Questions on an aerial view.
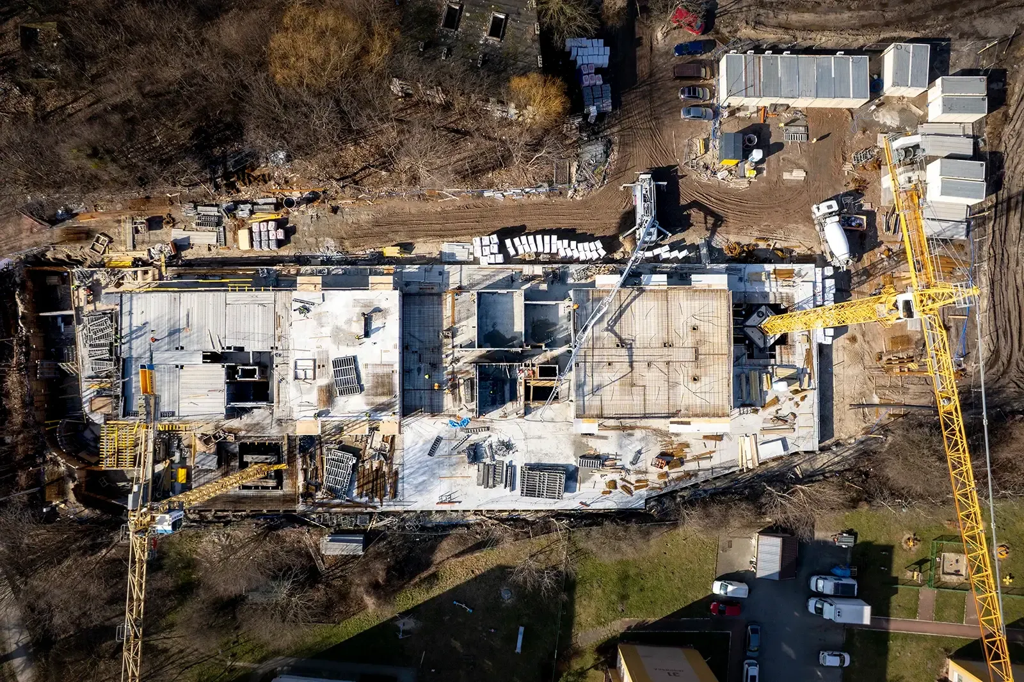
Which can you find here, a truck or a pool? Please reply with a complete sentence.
This aerial view contains a truck.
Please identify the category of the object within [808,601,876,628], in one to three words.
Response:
truck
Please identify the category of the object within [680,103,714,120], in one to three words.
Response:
car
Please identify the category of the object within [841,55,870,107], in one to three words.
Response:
building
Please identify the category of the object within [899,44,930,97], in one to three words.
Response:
building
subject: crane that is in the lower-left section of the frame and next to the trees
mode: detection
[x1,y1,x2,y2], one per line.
[97,372,283,682]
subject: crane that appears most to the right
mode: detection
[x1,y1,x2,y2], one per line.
[733,139,1016,682]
